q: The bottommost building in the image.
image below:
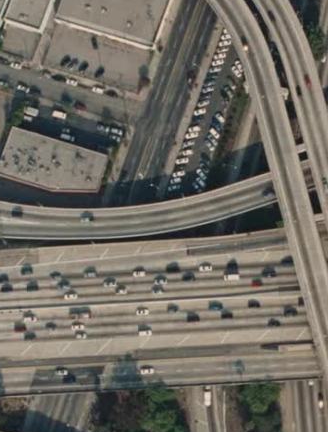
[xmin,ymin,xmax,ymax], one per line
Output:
[0,127,109,192]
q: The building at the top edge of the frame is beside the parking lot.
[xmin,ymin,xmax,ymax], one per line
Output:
[55,0,172,48]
